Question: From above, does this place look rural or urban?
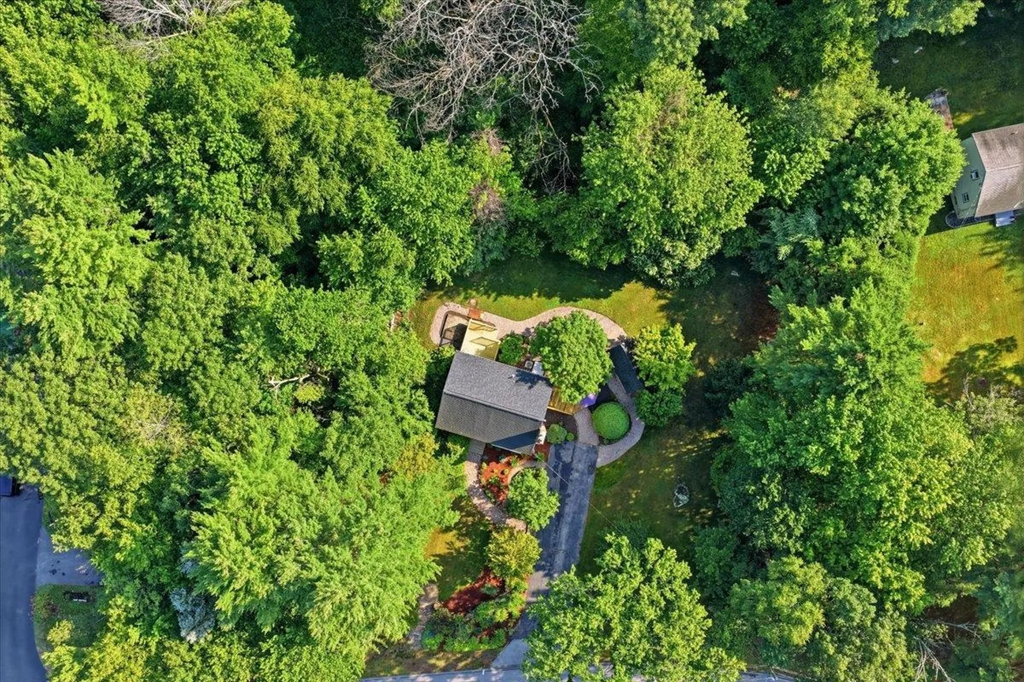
rural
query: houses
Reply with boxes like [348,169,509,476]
[434,350,555,458]
[949,125,1024,220]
